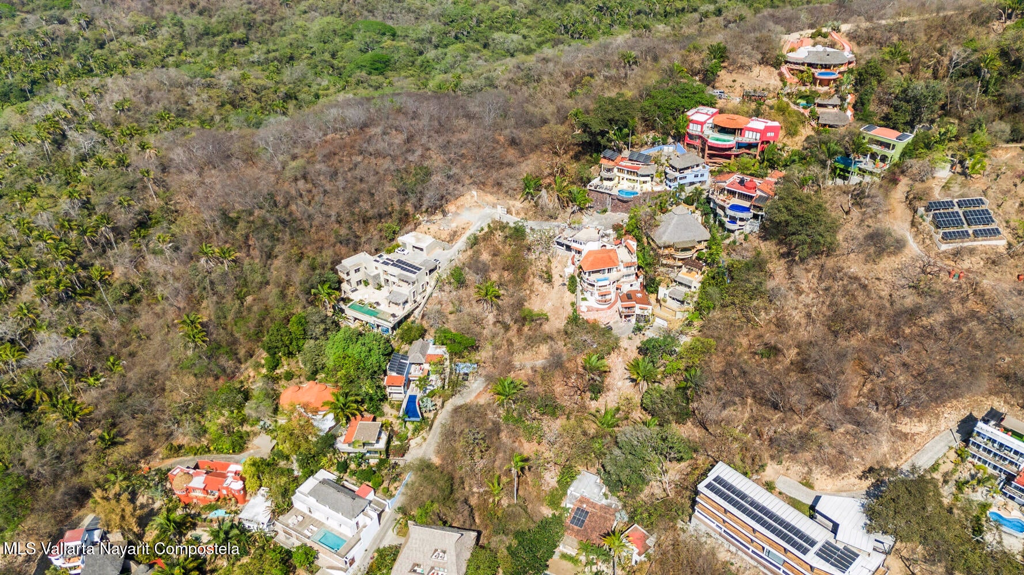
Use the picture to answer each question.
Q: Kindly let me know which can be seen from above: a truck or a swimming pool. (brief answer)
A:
swimming pool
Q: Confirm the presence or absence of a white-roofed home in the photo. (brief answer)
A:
Yes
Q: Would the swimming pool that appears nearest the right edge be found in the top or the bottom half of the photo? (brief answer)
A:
bottom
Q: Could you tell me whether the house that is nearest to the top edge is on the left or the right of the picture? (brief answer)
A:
right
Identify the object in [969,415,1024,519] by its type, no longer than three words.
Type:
building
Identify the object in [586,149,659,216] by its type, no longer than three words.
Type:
house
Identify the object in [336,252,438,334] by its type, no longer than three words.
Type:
house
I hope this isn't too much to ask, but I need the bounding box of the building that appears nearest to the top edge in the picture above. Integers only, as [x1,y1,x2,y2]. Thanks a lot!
[784,37,857,87]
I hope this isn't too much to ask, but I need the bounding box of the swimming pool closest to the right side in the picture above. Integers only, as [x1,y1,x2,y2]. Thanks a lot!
[987,505,1024,539]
